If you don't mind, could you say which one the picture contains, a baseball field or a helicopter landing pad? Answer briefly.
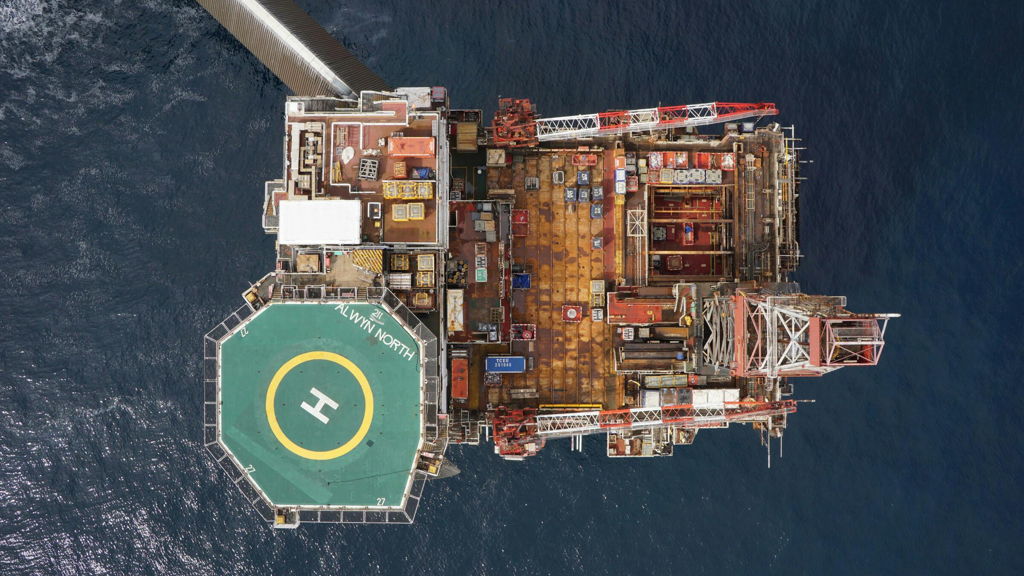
helicopter landing pad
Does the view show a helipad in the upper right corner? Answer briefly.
No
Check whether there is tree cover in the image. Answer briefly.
No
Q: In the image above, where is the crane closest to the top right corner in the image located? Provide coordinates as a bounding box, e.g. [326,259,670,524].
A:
[486,94,779,150]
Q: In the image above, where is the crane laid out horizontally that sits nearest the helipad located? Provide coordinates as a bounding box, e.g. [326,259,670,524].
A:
[486,398,816,460]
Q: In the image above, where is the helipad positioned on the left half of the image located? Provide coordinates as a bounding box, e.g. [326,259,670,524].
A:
[204,272,449,527]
